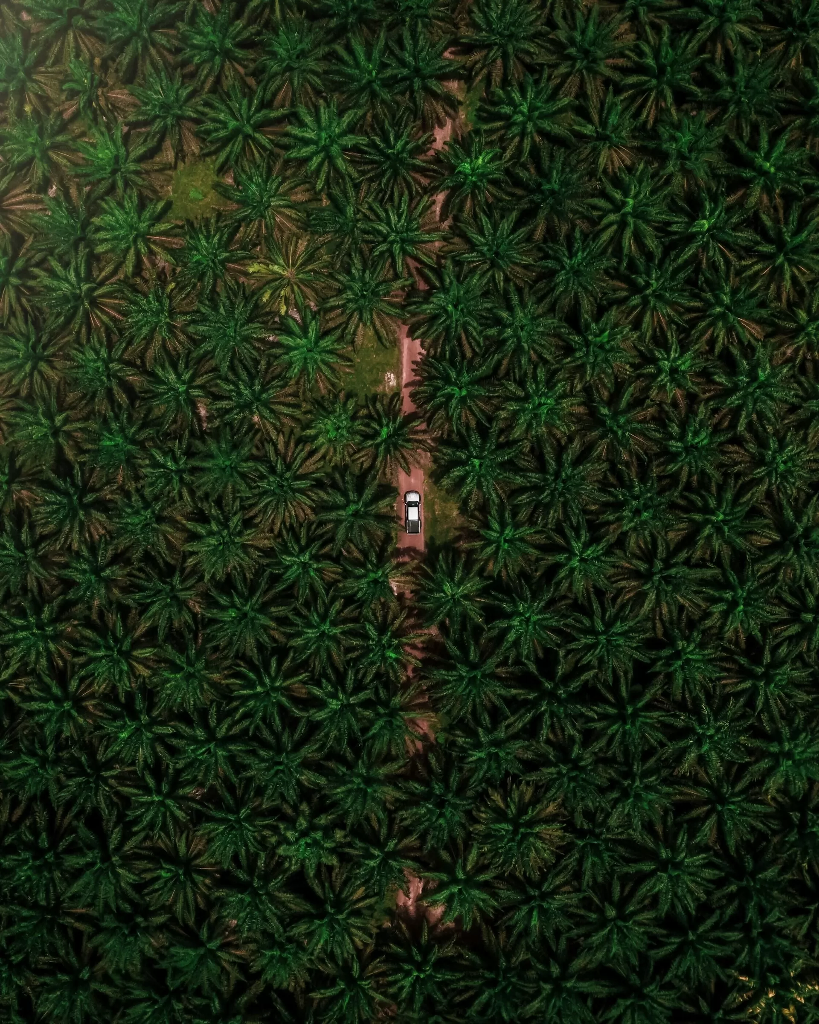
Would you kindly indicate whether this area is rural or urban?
rural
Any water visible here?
No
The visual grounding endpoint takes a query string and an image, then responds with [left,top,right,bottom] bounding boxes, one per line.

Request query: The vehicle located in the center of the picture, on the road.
[404,491,422,534]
